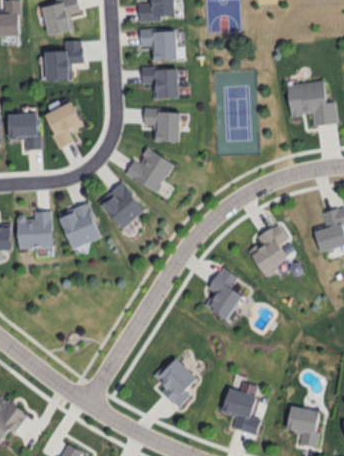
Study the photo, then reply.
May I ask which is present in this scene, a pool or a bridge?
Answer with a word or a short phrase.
pool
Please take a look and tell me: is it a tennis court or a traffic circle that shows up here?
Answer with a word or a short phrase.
tennis court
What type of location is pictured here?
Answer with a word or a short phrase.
residential area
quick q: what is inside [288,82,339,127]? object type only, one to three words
house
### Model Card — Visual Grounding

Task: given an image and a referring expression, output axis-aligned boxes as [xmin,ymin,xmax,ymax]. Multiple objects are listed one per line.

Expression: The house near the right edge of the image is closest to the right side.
[314,206,344,254]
